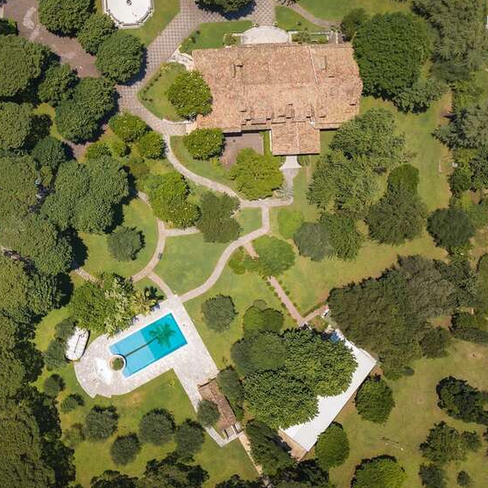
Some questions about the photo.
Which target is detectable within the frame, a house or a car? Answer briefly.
house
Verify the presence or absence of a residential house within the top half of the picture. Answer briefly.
Yes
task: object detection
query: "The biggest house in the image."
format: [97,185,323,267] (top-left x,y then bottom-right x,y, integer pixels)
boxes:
[189,44,362,154]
